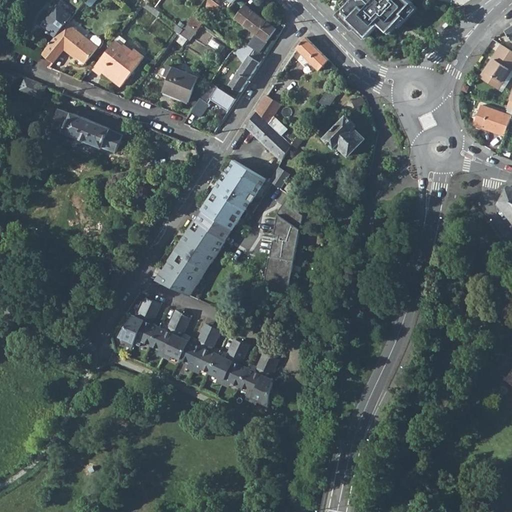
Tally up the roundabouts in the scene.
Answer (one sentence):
There are 2 roundabouts in the image.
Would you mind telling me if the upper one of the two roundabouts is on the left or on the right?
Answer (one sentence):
The upper one of the two roundabouts appears in the right half of the scene.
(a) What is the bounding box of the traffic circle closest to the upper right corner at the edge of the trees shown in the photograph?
[391,66,453,119]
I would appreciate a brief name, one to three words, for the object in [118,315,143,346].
house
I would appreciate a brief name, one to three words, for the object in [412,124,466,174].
roundabout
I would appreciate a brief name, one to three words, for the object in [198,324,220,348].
building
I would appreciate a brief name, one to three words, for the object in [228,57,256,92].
shed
